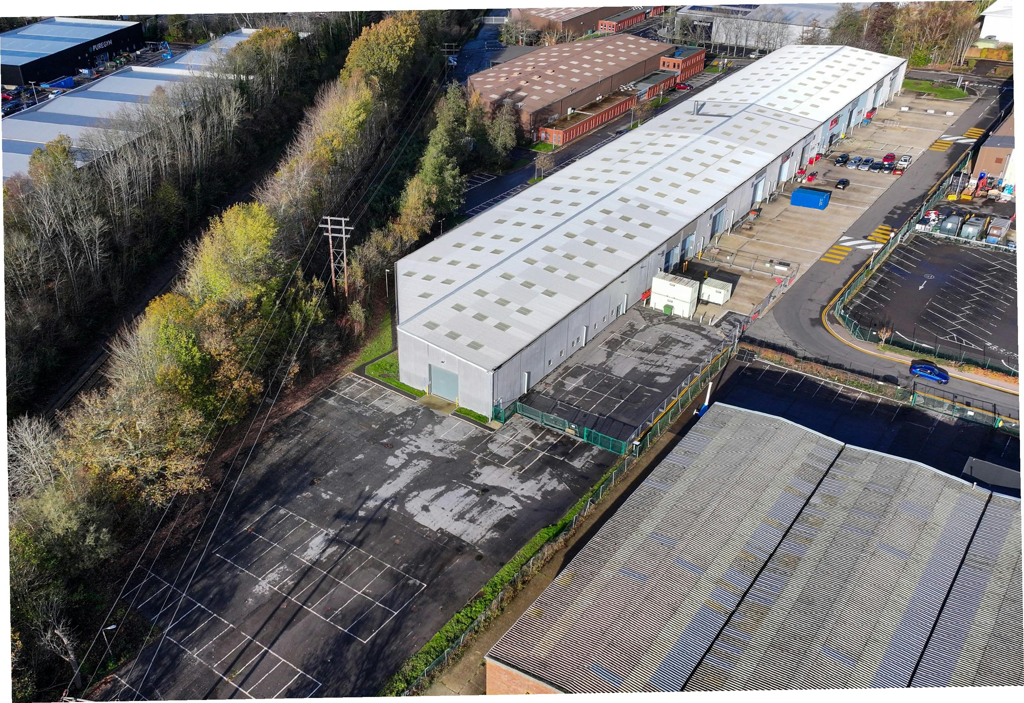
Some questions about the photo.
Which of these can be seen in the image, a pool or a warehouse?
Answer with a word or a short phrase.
warehouse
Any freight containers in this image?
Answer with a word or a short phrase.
Yes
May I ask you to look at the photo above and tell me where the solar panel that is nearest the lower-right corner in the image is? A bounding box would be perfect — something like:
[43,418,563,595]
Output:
[734,341,765,364]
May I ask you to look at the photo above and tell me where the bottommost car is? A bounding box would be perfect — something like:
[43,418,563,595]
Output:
[911,365,949,384]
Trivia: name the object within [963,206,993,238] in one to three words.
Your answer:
shipping container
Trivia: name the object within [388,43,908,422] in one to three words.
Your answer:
warehouse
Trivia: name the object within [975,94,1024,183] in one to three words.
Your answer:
building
